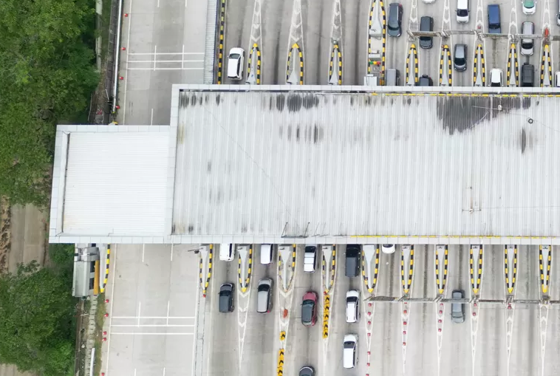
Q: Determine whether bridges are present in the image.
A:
No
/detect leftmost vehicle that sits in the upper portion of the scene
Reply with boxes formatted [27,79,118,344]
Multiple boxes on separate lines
[227,49,245,80]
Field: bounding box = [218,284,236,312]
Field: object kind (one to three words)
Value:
car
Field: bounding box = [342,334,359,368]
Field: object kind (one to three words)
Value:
car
